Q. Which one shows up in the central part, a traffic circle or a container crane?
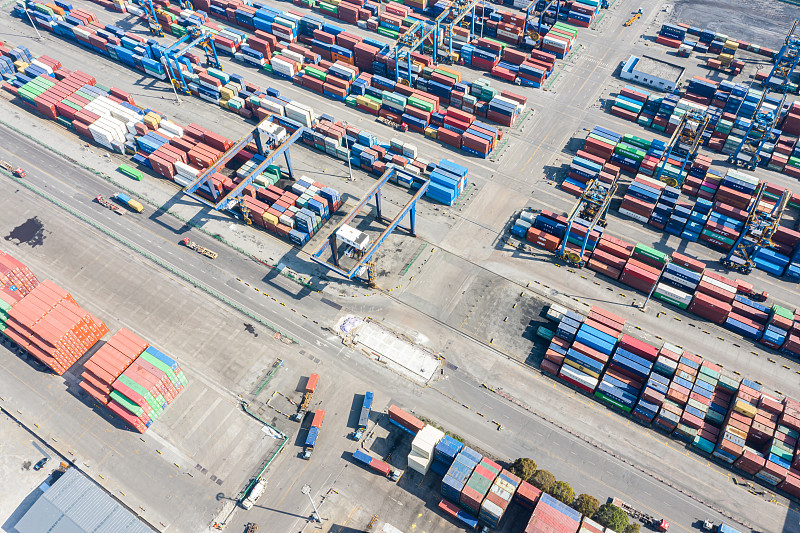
container crane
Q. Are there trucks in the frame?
Yes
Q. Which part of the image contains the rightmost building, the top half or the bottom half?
top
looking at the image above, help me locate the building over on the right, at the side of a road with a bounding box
[620,52,686,94]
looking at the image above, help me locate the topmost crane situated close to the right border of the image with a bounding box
[766,20,800,90]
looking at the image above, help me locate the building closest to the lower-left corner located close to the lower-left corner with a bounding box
[4,464,156,533]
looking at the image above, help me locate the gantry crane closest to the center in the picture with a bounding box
[308,164,434,290]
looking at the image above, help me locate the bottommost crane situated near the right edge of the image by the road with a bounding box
[719,179,789,274]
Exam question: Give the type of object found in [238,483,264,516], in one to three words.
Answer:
truck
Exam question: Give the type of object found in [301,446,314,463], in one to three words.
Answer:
vehicle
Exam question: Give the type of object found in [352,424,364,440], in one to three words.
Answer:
vehicle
